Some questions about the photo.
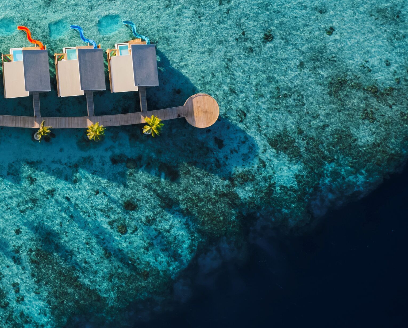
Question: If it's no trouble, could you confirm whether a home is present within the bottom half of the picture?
No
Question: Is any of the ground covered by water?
Yes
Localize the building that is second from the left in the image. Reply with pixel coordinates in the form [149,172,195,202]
[55,25,106,97]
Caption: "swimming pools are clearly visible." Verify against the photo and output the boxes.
[63,46,77,59]
[114,42,129,55]
[10,48,23,61]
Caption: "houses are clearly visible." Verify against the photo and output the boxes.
[107,20,159,92]
[55,25,106,97]
[1,26,51,98]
